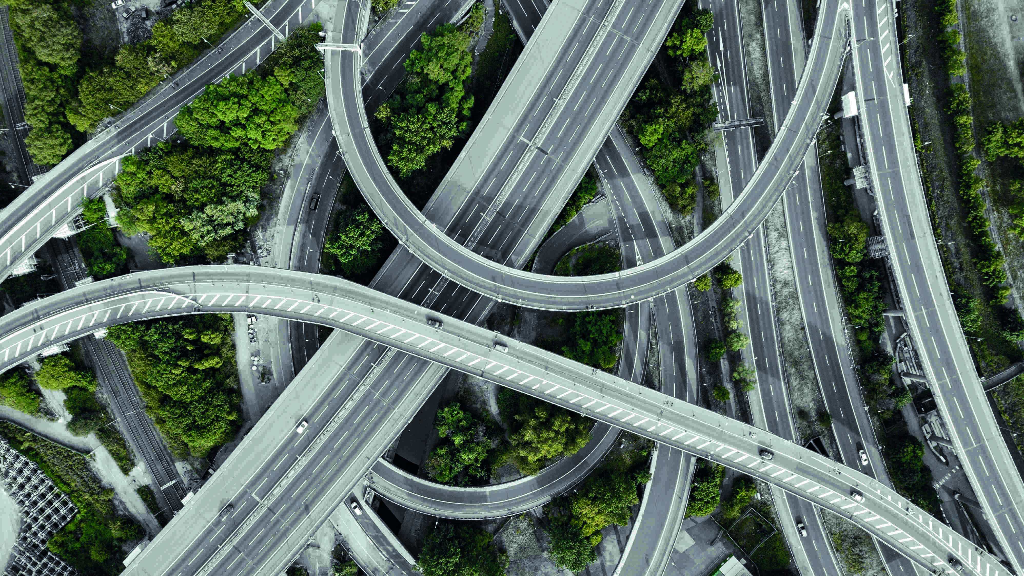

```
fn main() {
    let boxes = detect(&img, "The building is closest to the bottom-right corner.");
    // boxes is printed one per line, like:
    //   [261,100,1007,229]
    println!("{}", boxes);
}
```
[710,548,752,576]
